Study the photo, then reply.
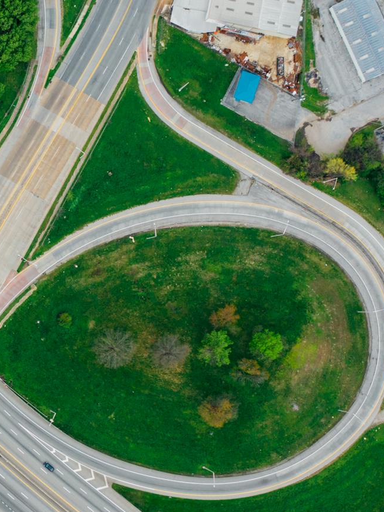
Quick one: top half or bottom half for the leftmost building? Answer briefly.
top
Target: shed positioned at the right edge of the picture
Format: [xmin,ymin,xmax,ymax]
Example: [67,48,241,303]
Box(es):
[324,0,384,85]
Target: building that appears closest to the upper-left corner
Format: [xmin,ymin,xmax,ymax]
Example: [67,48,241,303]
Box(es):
[166,0,216,38]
